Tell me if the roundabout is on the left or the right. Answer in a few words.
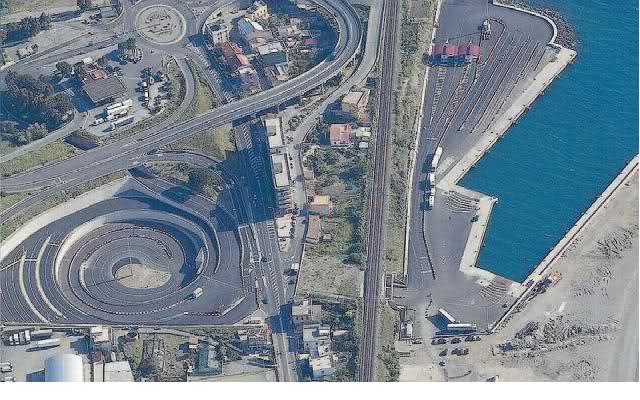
left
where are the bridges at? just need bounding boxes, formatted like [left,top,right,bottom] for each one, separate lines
[0,0,362,193]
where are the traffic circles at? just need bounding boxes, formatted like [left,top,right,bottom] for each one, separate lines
[116,0,205,58]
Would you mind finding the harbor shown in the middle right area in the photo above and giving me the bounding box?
[404,0,640,334]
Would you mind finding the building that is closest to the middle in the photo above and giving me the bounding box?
[313,195,331,214]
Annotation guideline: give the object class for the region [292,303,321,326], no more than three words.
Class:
house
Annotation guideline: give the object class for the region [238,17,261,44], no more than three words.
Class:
building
